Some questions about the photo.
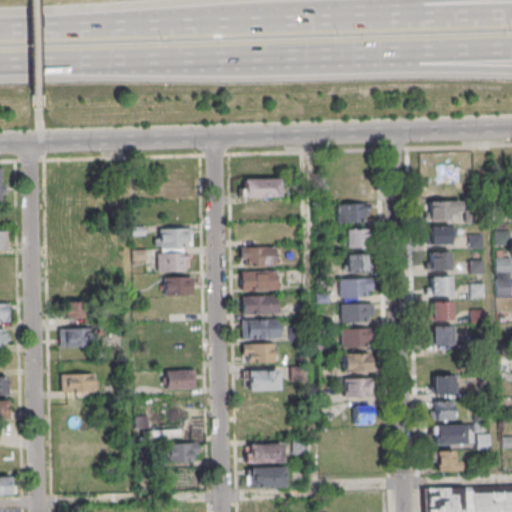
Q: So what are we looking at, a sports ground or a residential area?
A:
residential area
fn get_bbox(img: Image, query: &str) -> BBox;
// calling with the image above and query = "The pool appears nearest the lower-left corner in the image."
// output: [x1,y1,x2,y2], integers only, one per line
[67,416,82,430]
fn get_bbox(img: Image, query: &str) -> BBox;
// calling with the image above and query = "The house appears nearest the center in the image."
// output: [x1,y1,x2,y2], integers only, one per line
[242,247,280,268]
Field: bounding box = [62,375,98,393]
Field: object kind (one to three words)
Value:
house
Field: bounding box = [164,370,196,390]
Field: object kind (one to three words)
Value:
house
